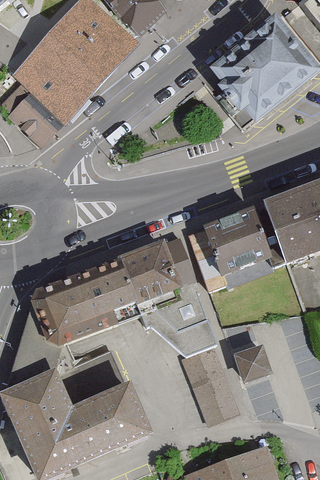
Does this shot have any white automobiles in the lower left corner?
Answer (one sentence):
No, I can find no white automobile in the lower left corner.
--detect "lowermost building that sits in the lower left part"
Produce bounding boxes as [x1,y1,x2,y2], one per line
[0,368,154,480]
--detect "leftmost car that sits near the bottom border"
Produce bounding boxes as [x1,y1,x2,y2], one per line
[289,461,304,480]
